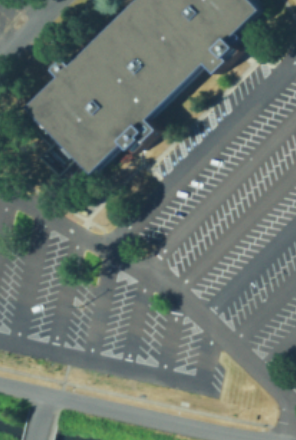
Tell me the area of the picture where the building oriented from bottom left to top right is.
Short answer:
top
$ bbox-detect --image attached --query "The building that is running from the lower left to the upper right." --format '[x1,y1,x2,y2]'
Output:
[28,0,263,174]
